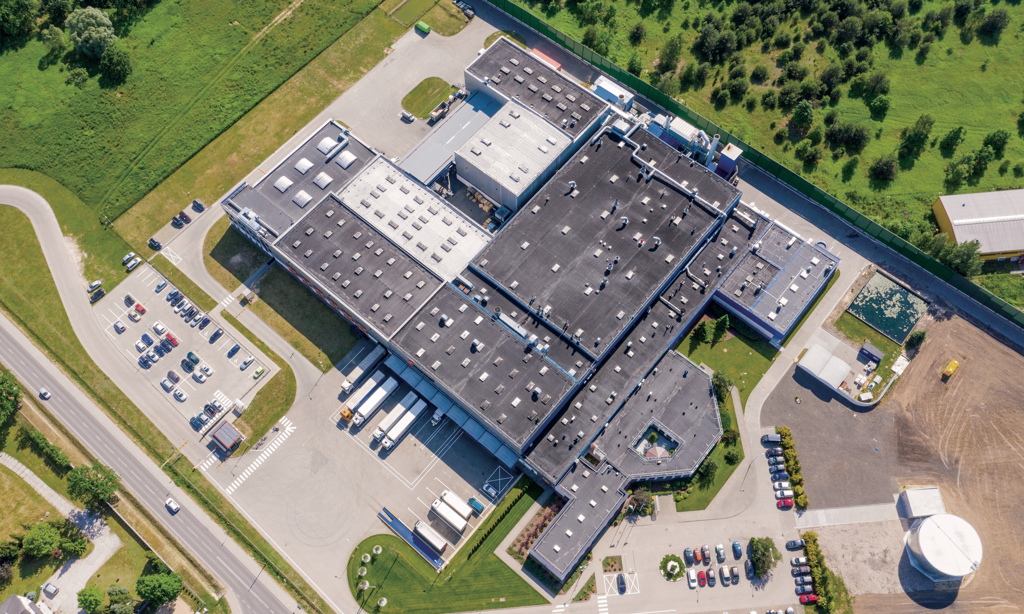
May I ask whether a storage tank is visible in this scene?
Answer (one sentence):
Yes, there's a storage tank here.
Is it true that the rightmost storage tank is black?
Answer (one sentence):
No, the color of the rightmost storage tank is white.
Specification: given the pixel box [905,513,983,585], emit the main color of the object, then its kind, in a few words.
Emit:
white storage tank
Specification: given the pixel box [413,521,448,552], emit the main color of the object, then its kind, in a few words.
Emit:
white truck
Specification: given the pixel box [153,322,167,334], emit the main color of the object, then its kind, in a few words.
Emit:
white vehicle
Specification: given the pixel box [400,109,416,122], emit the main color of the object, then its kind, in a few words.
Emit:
gray vehicle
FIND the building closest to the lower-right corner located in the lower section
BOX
[900,487,947,520]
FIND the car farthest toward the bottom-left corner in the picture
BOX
[43,582,60,596]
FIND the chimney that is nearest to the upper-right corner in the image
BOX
[706,134,720,165]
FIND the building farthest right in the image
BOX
[932,189,1024,261]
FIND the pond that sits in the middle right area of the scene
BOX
[848,271,929,344]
